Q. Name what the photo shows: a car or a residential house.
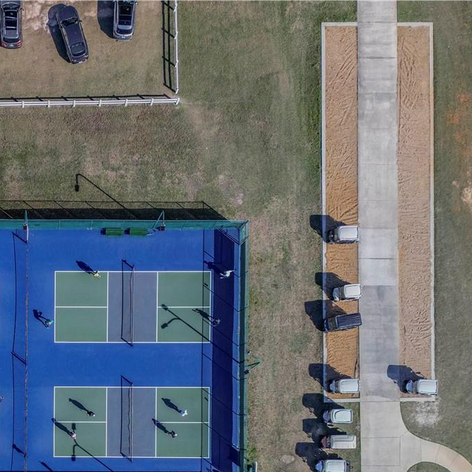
car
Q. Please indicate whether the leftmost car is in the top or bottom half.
top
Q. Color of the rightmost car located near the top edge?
black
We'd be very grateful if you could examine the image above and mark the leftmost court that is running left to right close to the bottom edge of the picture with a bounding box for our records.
[53,386,210,458]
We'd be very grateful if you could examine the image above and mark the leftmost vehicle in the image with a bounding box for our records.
[1,0,25,50]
